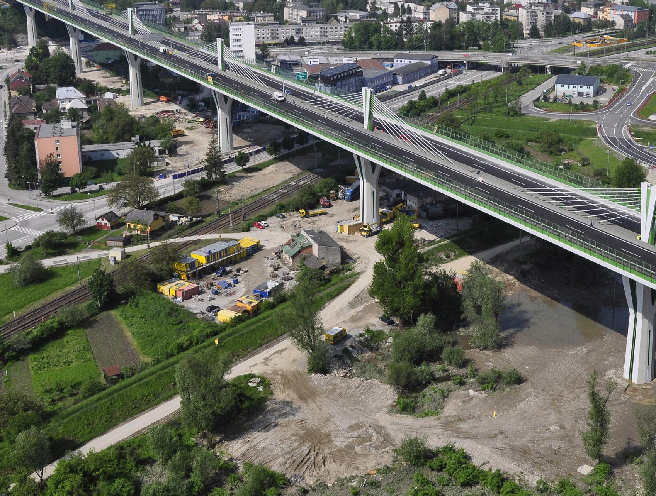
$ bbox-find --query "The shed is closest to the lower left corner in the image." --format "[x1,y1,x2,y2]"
[99,361,122,381]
